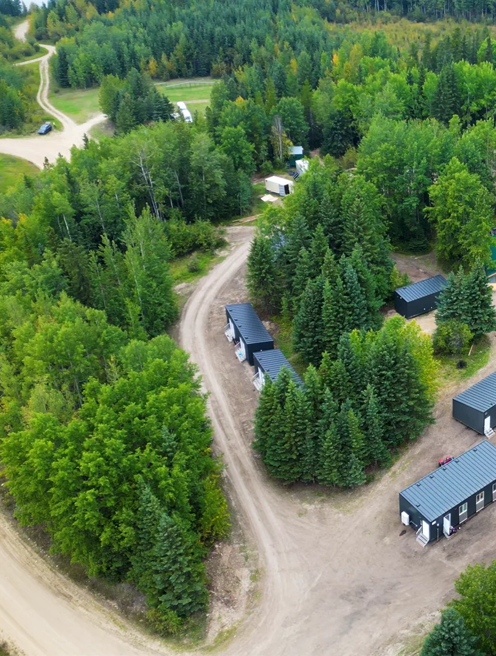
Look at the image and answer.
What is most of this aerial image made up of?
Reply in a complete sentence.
The largest share of the image is taken up by trees.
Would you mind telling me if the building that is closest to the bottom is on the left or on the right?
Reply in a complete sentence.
The building that is closest to the bottom sits on the right side.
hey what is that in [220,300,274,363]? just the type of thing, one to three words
building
